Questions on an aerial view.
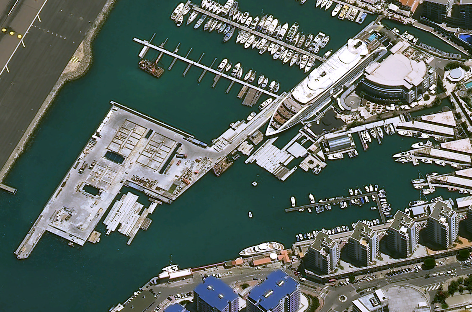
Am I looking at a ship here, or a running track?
ship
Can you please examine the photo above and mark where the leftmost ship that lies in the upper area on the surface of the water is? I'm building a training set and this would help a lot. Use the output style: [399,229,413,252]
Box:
[139,54,164,77]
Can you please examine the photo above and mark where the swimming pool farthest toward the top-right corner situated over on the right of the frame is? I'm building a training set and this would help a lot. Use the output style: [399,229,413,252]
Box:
[454,32,472,46]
